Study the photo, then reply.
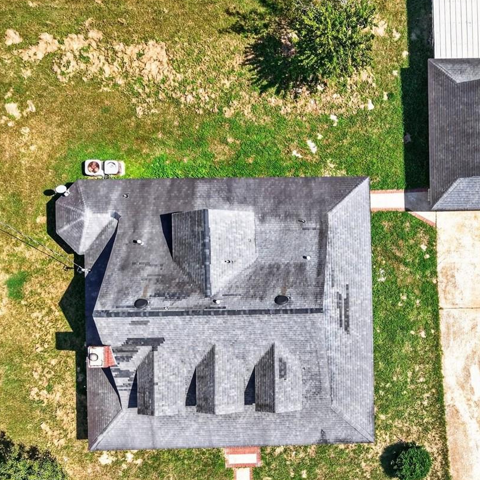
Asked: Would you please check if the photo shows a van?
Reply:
No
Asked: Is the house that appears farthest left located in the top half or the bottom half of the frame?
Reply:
bottom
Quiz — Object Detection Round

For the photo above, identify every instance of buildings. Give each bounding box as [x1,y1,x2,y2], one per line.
[55,176,375,451]
[428,57,480,211]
